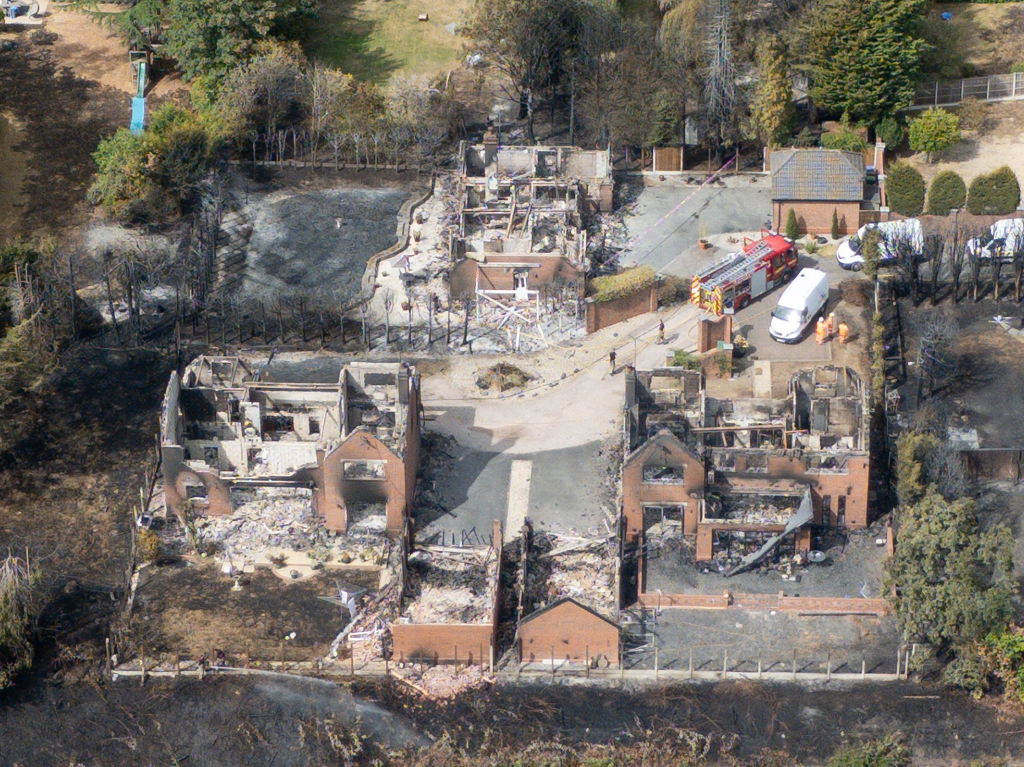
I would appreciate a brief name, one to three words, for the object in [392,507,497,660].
building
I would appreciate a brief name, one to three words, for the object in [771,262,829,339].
van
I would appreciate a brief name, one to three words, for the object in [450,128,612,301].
house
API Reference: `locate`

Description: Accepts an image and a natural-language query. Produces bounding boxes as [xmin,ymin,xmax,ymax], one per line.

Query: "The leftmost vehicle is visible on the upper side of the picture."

[691,220,798,309]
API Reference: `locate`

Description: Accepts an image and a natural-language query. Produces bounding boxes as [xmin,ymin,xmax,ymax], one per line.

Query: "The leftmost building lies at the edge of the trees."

[156,354,421,533]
